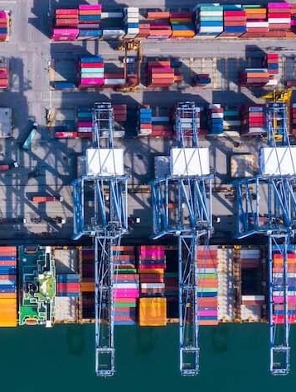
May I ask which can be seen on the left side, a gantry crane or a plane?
gantry crane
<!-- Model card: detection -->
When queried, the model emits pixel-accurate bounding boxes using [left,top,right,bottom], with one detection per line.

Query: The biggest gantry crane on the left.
[61,100,128,375]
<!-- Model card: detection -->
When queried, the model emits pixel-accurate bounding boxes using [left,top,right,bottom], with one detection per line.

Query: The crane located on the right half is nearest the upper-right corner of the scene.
[254,84,290,141]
